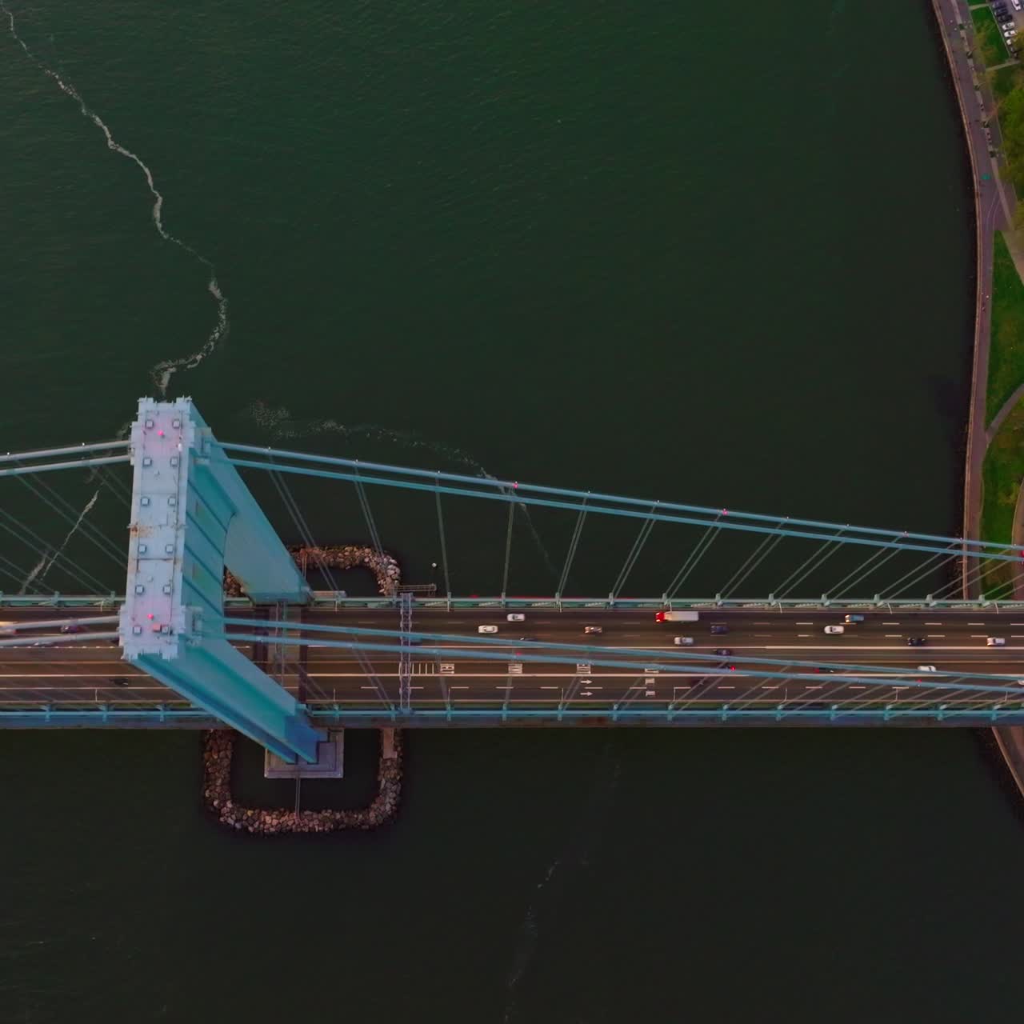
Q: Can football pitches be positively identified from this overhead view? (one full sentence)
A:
No, no football pitch is visible in the view.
